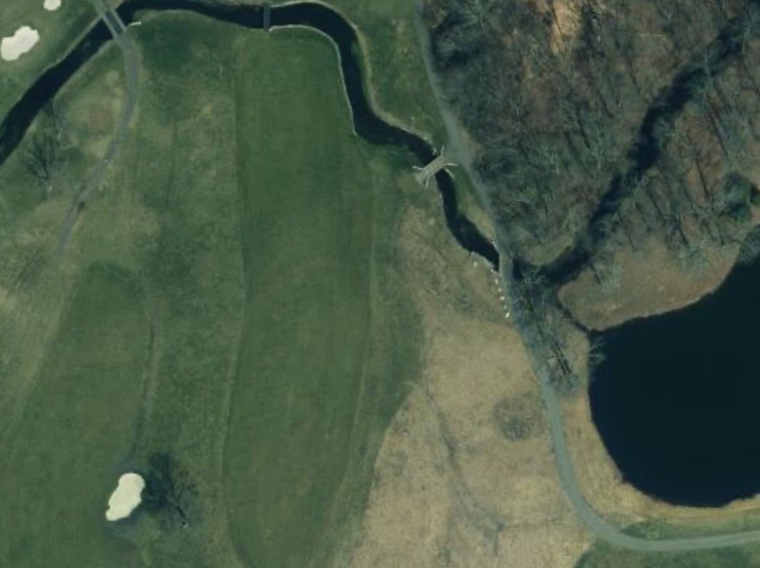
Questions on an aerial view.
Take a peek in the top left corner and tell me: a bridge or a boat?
bridge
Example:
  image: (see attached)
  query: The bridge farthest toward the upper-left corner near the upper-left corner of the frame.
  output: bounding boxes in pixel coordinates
[97,2,129,44]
